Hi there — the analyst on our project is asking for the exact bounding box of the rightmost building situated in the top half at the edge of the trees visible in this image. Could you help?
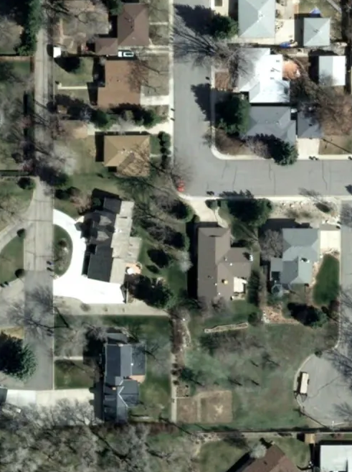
[319,55,346,84]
